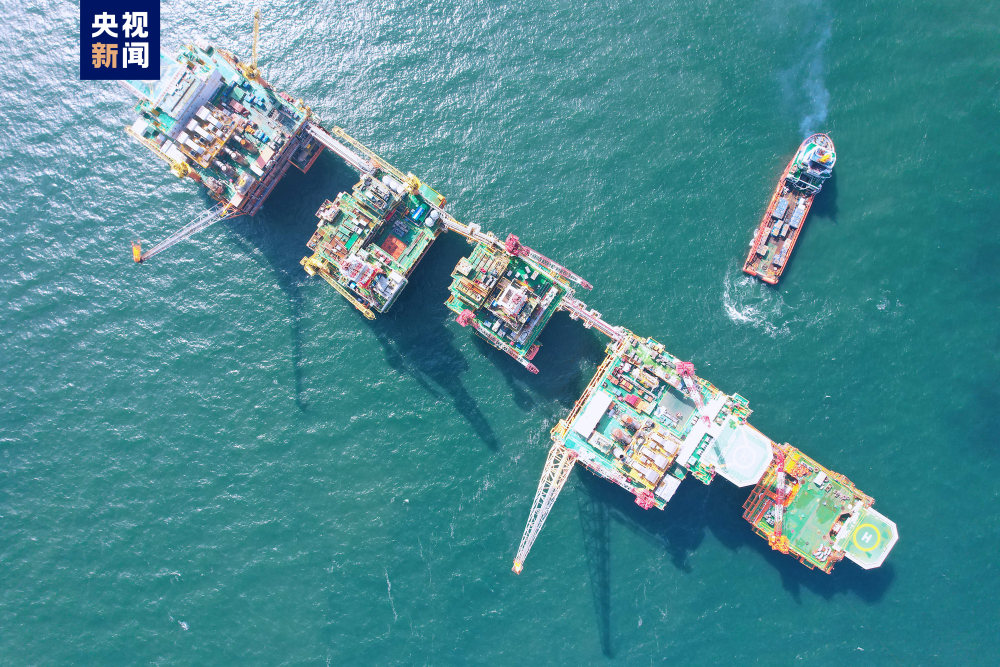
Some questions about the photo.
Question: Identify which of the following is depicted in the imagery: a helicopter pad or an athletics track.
helicopter pad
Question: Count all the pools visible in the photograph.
zero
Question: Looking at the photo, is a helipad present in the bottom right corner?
Yes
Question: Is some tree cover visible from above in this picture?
No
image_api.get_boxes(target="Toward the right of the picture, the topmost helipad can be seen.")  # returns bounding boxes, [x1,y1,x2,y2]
[701,417,773,487]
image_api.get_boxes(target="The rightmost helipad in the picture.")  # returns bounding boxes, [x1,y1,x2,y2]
[844,507,899,569]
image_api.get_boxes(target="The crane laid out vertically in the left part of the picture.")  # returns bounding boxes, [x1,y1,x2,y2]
[241,11,262,84]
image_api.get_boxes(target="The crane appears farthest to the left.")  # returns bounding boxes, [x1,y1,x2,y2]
[126,127,192,181]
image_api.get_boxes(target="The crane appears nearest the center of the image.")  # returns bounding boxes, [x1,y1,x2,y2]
[455,306,540,374]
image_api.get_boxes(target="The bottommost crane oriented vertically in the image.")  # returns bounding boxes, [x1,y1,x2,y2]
[768,451,787,555]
